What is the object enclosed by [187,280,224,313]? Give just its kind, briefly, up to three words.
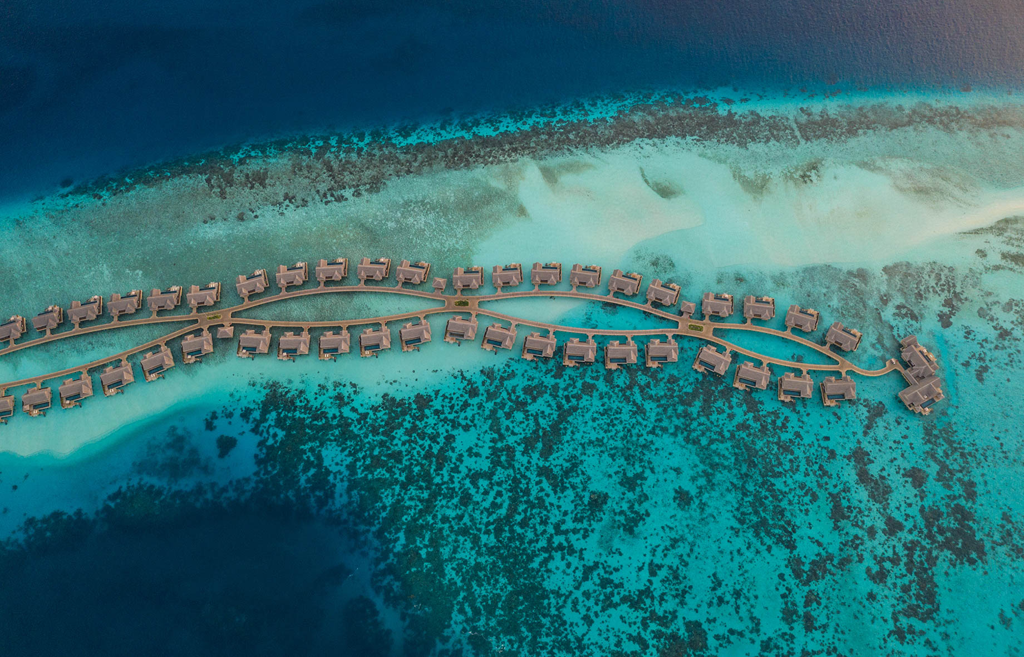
house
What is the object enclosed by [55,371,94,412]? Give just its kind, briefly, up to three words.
house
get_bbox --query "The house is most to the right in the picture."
[889,335,949,419]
